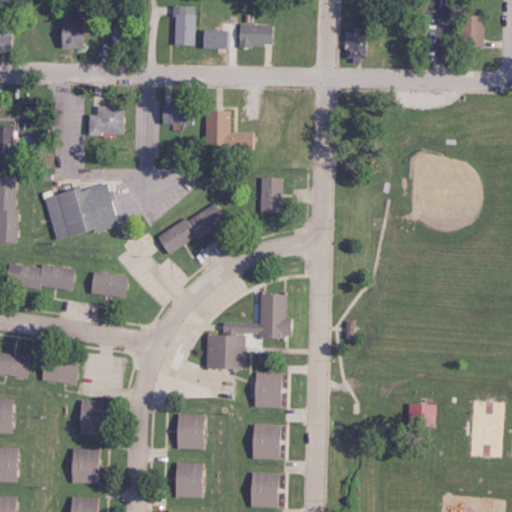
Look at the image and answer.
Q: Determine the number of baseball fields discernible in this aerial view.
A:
1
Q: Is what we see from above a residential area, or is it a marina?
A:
residential area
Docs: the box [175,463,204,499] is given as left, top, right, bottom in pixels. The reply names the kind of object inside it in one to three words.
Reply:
house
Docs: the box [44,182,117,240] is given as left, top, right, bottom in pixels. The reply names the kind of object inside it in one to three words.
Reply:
building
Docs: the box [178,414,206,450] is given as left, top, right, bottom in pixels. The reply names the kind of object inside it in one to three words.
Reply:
house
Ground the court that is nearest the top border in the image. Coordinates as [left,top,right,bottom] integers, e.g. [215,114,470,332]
[470,400,506,458]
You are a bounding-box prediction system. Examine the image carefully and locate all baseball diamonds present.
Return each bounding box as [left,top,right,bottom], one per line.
[403,150,484,232]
